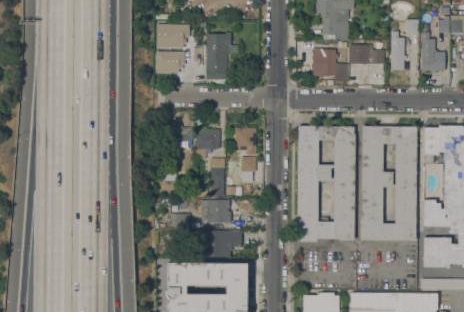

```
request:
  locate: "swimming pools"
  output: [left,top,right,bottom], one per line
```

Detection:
[428,174,438,192]
[422,13,433,24]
